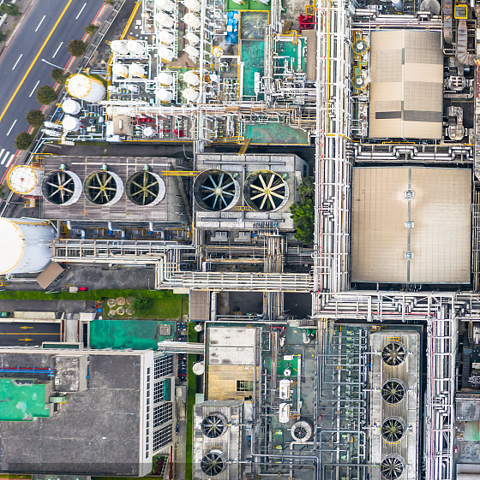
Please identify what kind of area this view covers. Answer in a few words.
industrial area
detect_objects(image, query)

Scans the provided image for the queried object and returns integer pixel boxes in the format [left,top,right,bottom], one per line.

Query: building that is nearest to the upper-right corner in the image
[370,28,445,142]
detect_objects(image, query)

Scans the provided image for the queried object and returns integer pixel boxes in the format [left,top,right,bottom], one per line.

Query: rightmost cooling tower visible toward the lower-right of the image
[364,328,423,480]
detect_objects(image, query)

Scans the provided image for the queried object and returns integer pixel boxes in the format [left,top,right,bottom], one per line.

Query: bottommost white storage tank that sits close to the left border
[0,217,53,274]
